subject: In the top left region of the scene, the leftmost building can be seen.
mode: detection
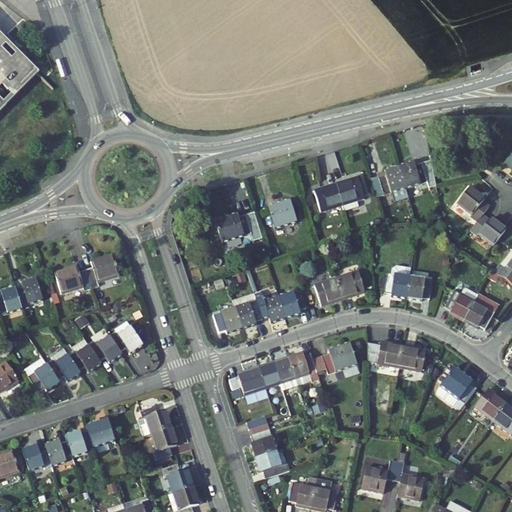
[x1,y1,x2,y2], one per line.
[0,30,38,109]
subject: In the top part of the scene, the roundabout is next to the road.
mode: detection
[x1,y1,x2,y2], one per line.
[90,140,165,214]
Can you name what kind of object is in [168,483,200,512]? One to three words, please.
house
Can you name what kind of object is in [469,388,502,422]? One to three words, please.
house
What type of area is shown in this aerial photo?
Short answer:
residential area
